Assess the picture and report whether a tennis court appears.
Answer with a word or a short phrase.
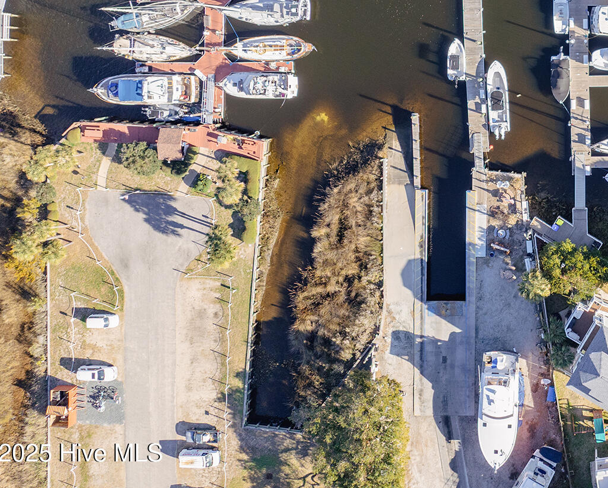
No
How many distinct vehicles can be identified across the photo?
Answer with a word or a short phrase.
4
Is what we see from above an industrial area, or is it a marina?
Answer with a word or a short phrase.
marina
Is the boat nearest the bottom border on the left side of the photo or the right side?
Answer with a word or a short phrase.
right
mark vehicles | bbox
[173,449,221,473]
[185,428,221,449]
[82,312,119,332]
[73,364,118,385]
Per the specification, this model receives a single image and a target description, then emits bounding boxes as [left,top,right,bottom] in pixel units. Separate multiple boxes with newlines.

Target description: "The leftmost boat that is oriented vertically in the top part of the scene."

[447,38,466,87]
